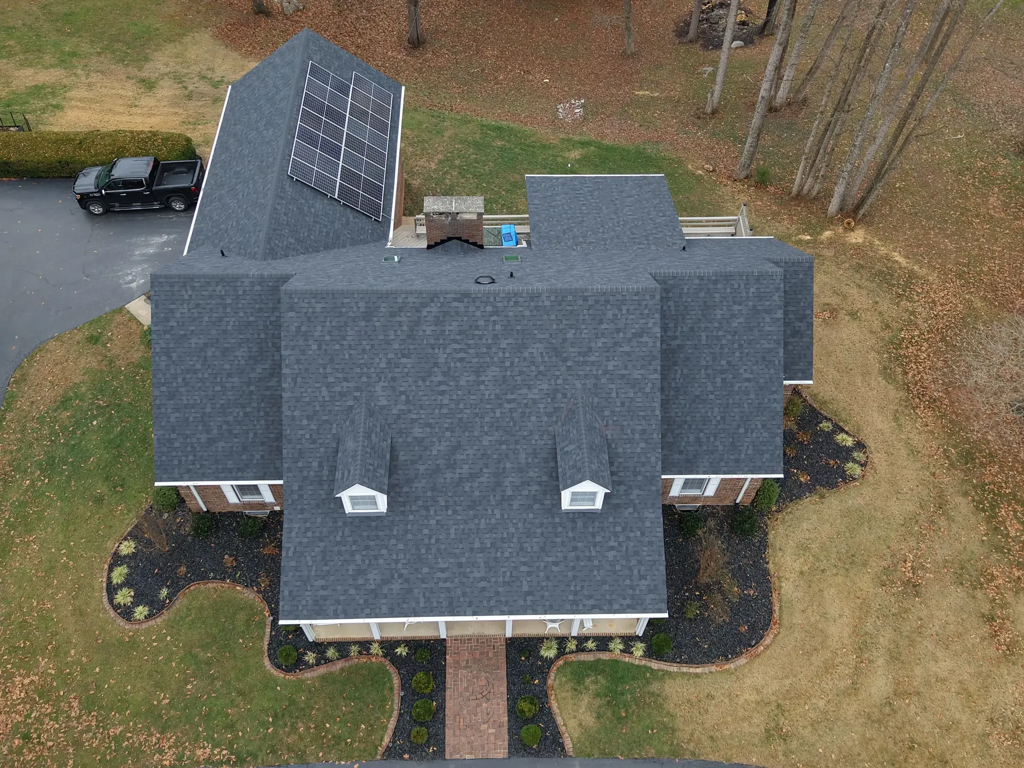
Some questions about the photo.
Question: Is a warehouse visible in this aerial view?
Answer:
No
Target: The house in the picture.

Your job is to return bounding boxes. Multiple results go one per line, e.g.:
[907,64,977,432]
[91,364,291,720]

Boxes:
[150,28,815,647]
